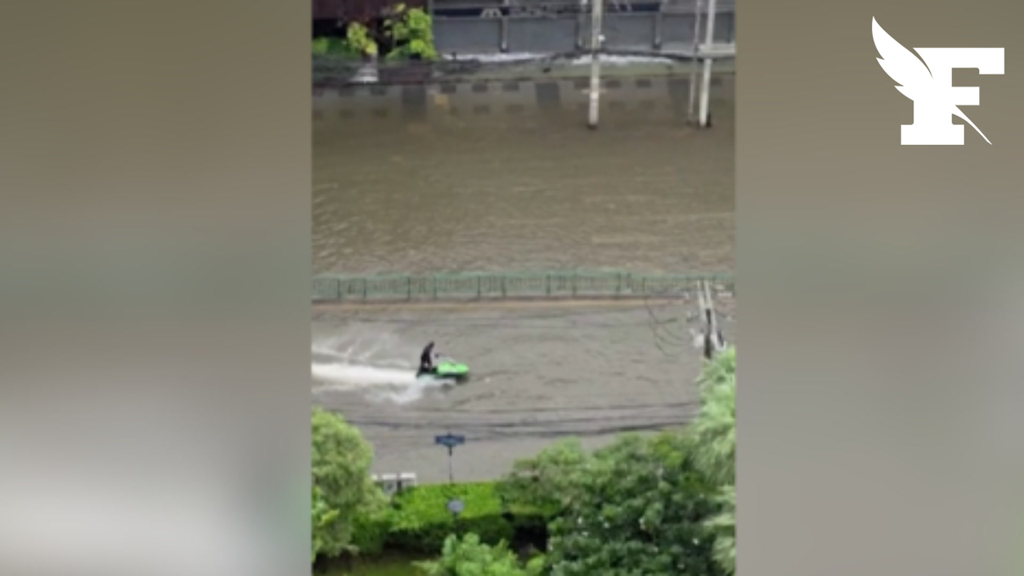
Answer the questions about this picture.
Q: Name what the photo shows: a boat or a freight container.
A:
boat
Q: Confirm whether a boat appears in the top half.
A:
No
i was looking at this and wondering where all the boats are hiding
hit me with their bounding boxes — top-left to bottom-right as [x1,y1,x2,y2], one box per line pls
[417,350,471,379]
